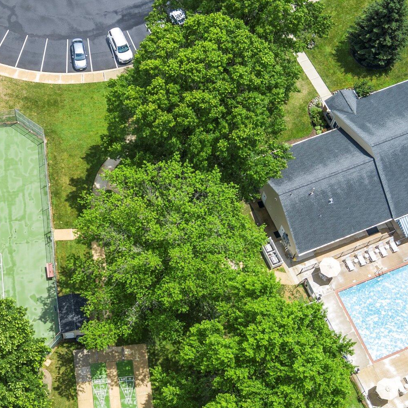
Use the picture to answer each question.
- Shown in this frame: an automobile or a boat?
automobile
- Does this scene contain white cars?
Yes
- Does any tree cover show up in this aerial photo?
Yes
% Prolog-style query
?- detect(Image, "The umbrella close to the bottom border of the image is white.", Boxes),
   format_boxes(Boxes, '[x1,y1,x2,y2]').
[375,378,398,402]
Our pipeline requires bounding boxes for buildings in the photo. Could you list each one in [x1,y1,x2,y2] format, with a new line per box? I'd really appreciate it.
[250,80,408,258]
[57,297,90,341]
